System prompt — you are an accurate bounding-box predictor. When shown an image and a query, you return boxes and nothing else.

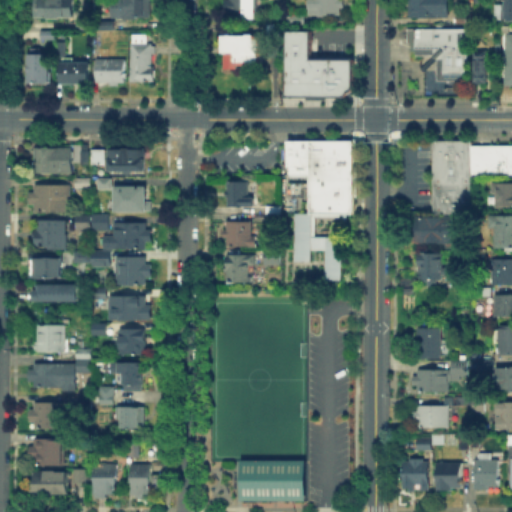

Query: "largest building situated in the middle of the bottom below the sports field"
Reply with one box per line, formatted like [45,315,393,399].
[238,461,304,502]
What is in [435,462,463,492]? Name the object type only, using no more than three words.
house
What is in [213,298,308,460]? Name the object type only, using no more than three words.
sports field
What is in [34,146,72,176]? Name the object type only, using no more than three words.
house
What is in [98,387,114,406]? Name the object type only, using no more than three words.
building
